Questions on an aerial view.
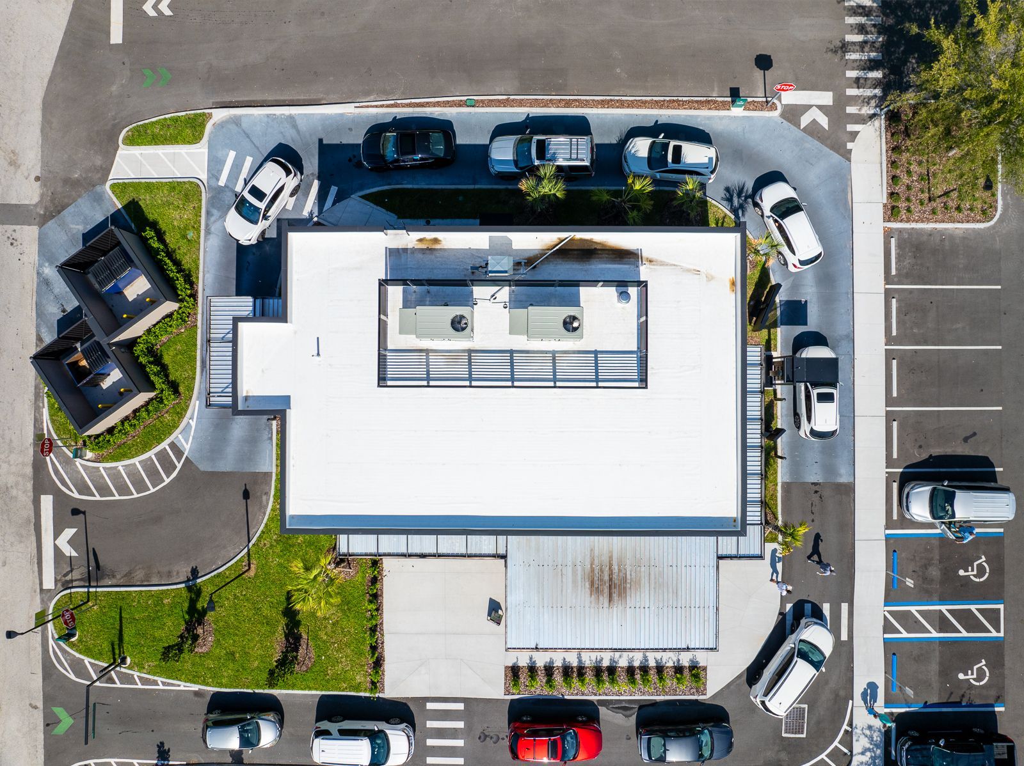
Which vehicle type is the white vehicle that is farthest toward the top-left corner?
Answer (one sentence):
The white vehicle that is farthest toward the top-left corner appears to be an automobile.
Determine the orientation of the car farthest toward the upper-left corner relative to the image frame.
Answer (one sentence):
In this picture, the car farthest toward the upper-left corner is oriented diagonally.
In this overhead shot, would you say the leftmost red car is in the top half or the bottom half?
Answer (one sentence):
The leftmost red car is in the bottom half of the image.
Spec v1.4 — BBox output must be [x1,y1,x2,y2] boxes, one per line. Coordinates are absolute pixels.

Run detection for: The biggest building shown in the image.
[207,220,766,652]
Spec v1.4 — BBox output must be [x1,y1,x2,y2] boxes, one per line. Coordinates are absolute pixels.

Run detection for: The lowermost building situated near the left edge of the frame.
[27,317,156,431]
